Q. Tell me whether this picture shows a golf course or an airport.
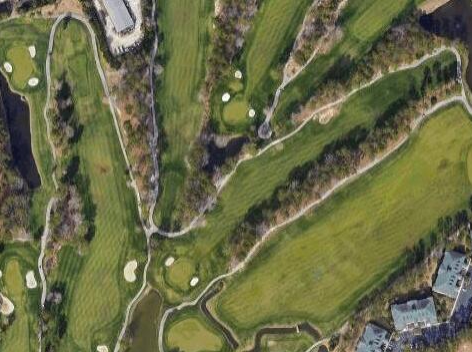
golf course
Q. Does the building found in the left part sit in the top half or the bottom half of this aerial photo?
top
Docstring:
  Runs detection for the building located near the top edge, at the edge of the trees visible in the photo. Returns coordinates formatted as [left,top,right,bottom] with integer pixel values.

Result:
[101,0,131,32]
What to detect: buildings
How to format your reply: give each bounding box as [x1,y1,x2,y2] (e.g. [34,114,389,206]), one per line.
[433,249,472,298]
[391,298,439,333]
[101,0,131,32]
[353,323,392,352]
